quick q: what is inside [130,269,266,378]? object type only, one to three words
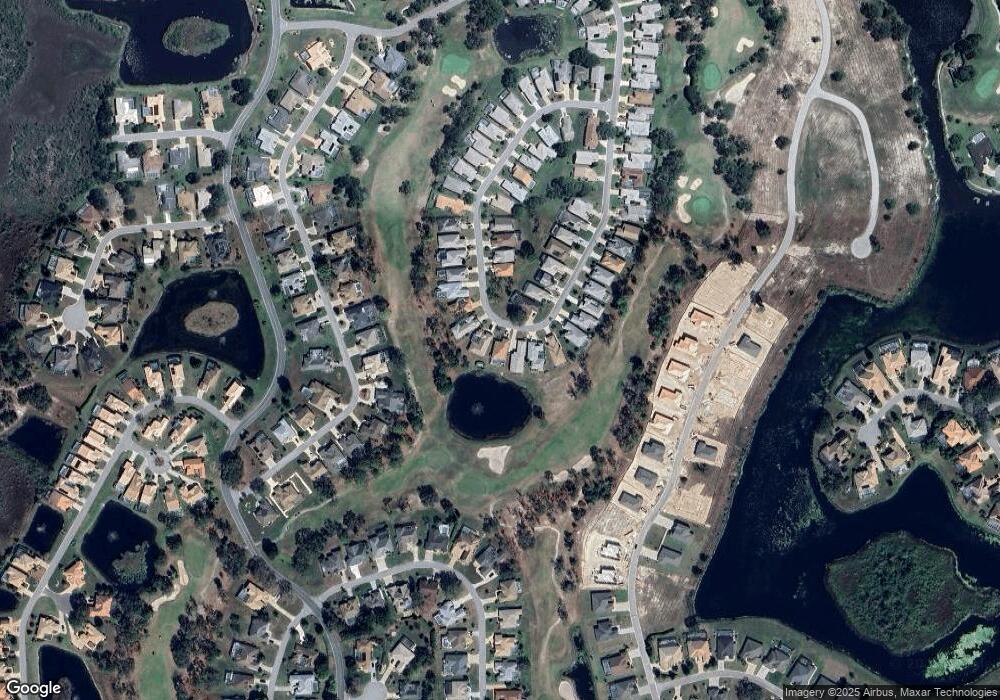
pond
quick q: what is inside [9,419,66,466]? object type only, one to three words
pond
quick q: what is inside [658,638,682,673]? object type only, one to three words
house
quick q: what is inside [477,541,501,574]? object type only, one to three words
house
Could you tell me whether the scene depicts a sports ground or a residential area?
residential area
